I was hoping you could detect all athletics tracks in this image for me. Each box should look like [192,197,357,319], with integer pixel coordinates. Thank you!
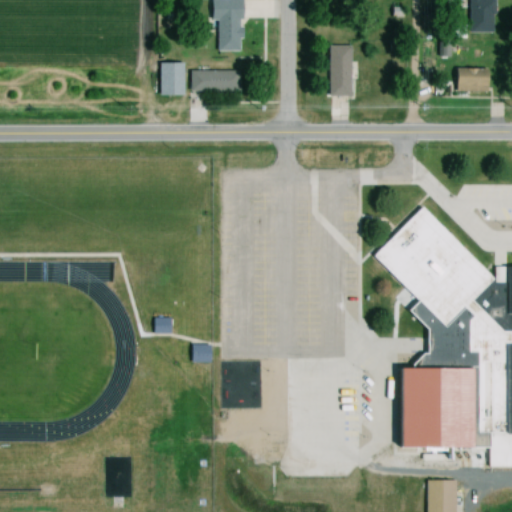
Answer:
[0,262,136,441]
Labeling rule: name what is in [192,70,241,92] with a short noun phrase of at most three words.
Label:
house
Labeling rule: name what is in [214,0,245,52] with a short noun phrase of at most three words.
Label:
house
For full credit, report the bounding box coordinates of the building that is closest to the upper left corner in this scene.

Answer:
[160,62,186,96]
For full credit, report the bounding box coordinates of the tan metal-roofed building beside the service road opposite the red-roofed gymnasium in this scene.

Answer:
[428,480,458,512]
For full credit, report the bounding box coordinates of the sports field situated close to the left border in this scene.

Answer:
[0,281,116,422]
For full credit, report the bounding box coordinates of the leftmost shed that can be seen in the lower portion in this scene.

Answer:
[154,316,172,333]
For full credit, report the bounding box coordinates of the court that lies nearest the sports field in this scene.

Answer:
[106,457,132,508]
